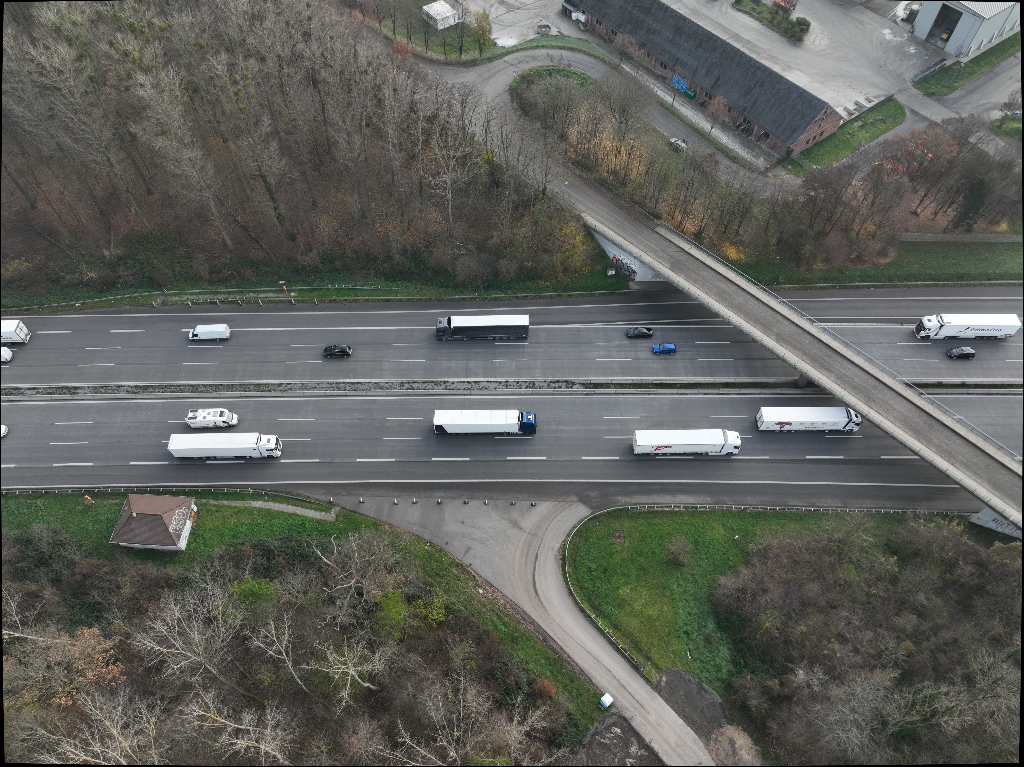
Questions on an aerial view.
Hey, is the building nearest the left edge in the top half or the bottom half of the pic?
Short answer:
bottom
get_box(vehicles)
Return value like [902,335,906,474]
[0,349,13,361]
[167,433,283,461]
[0,425,9,437]
[188,323,230,341]
[632,430,742,457]
[435,314,529,340]
[949,346,977,359]
[0,320,31,346]
[626,326,654,338]
[323,346,351,358]
[755,407,866,434]
[653,342,677,355]
[913,313,1021,339]
[186,407,237,428]
[434,410,538,437]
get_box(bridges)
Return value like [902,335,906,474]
[568,165,1024,541]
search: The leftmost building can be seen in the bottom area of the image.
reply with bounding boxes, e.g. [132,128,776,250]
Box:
[109,494,199,551]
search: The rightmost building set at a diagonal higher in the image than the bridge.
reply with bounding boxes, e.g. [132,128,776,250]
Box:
[563,0,847,155]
